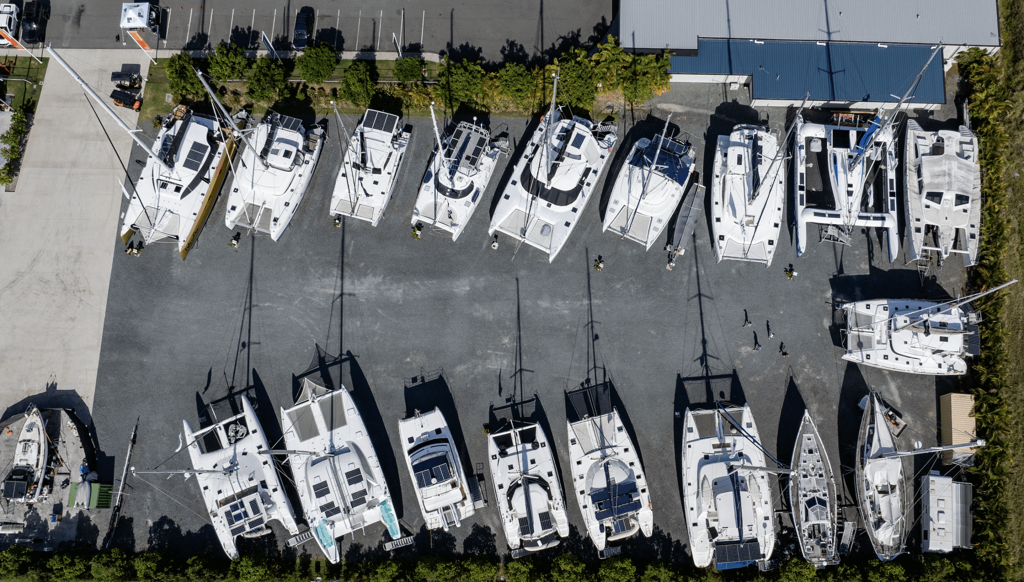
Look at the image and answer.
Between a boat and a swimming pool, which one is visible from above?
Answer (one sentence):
Of the two, only a boat appears.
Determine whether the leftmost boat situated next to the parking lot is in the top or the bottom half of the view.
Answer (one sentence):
The leftmost boat situated next to the parking lot is in the top half of the image.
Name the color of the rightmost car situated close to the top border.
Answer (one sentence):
The rightmost car situated close to the top border is black.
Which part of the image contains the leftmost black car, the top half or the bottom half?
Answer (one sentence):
You can find the leftmost black car in the top half.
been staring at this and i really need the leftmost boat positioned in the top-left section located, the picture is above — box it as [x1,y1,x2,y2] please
[46,45,245,260]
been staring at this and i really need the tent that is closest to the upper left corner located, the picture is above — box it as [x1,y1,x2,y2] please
[120,2,157,38]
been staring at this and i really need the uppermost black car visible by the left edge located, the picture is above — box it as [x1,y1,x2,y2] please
[19,0,49,46]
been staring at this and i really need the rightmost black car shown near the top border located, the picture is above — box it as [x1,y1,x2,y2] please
[291,7,315,52]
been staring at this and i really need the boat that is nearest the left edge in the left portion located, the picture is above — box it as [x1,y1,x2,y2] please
[4,405,65,502]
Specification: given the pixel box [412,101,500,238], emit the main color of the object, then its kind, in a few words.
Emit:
white boat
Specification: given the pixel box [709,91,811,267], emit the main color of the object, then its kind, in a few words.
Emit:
white boat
